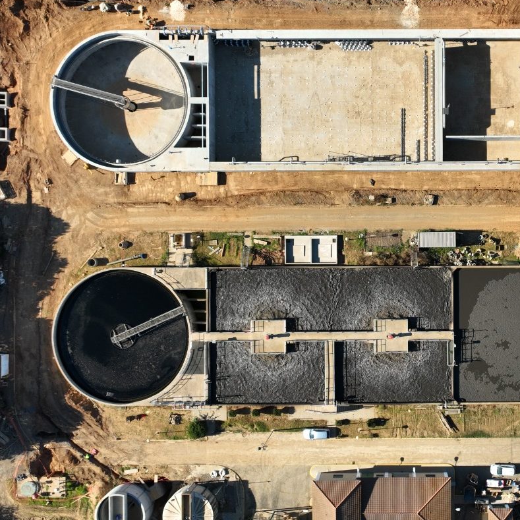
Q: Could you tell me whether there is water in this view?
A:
Yes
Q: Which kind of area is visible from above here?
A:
industrial area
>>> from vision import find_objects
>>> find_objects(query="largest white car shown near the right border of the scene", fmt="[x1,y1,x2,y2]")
[489,461,515,476]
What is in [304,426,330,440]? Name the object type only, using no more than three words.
vehicle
